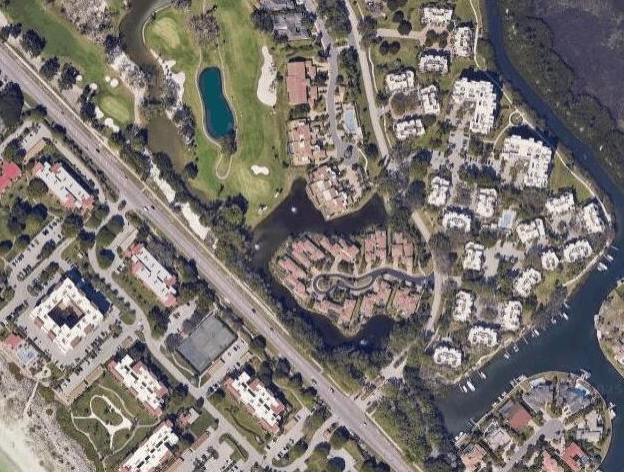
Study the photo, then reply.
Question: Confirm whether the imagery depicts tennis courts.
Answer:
Yes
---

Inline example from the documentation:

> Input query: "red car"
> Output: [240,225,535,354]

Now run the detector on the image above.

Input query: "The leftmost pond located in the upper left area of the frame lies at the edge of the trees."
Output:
[119,0,187,170]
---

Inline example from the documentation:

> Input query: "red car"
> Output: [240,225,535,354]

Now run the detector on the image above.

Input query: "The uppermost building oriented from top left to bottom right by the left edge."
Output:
[26,155,97,216]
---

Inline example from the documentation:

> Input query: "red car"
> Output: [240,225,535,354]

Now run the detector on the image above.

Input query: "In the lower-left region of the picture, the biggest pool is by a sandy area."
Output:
[15,344,38,363]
